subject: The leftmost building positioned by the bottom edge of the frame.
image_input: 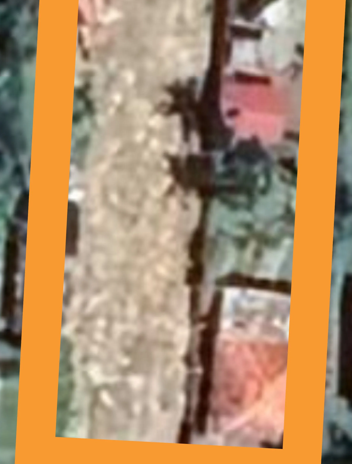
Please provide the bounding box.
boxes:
[216,336,323,445]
